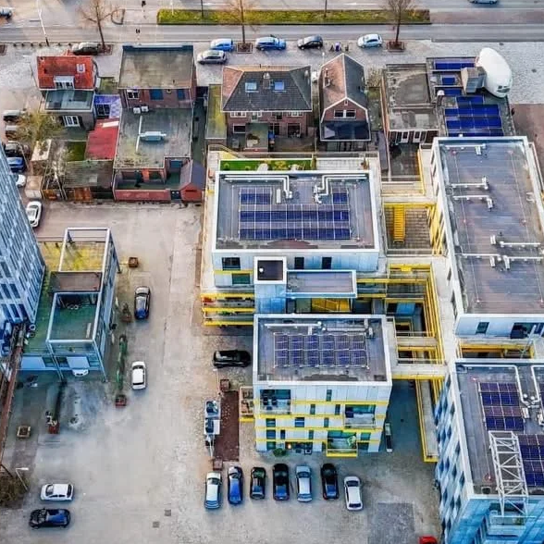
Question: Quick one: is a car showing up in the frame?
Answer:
Yes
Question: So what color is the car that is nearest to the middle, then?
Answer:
black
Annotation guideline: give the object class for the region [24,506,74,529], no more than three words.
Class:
car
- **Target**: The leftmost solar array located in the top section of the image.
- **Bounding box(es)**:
[239,186,353,238]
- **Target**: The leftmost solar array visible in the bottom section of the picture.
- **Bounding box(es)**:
[274,332,371,367]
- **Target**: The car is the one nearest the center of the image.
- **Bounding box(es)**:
[210,348,252,368]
